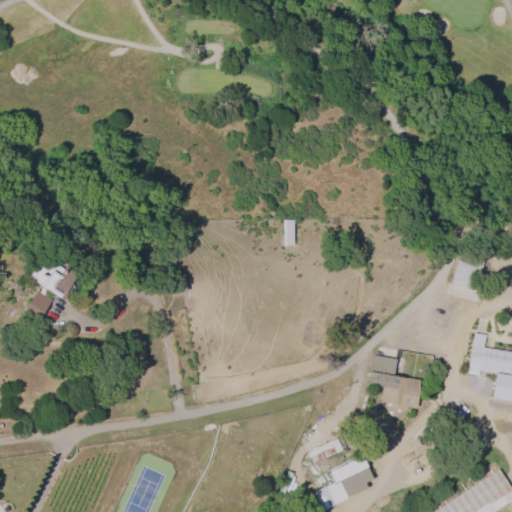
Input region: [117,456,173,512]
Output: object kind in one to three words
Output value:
tennis court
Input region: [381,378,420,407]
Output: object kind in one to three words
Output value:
building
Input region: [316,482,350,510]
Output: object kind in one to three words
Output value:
building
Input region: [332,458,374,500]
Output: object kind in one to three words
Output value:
barn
